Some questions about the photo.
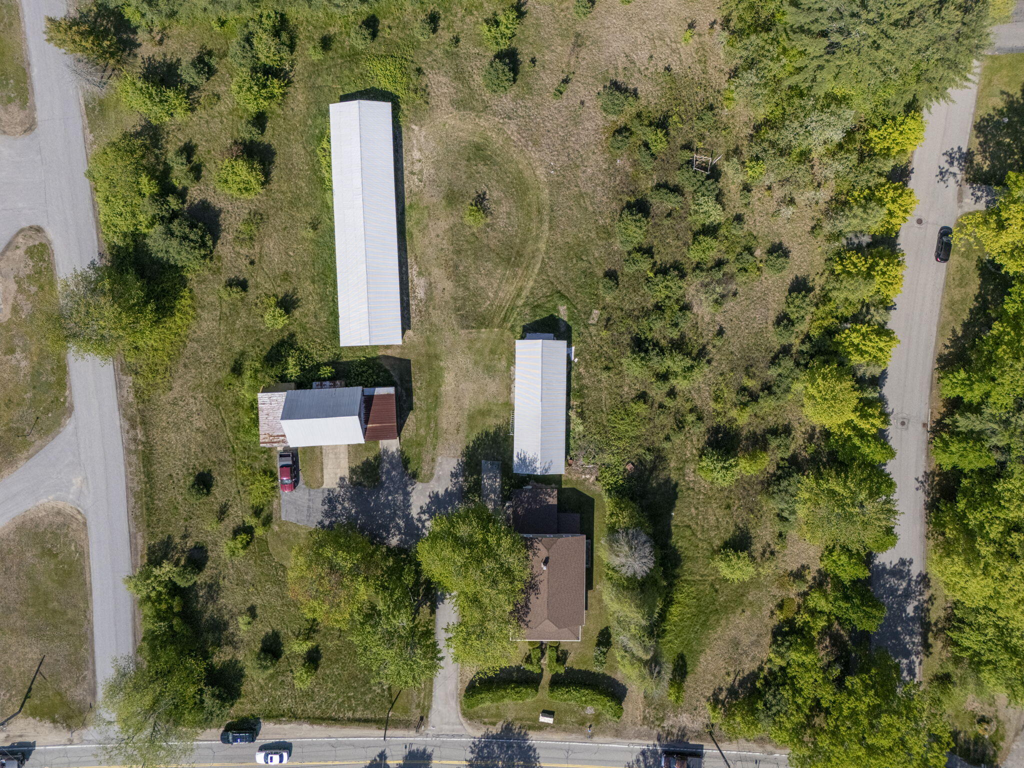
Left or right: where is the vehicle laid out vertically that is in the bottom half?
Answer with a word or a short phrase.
left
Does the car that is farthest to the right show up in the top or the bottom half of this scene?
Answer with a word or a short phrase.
top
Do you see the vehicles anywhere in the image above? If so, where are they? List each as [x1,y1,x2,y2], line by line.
[934,226,955,262]
[255,748,290,768]
[221,727,256,747]
[659,752,703,768]
[278,449,298,493]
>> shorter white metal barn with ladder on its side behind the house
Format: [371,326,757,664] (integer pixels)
[513,333,575,476]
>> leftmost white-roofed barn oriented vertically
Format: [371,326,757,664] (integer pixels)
[330,99,405,346]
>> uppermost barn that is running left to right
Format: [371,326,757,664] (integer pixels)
[257,381,402,448]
